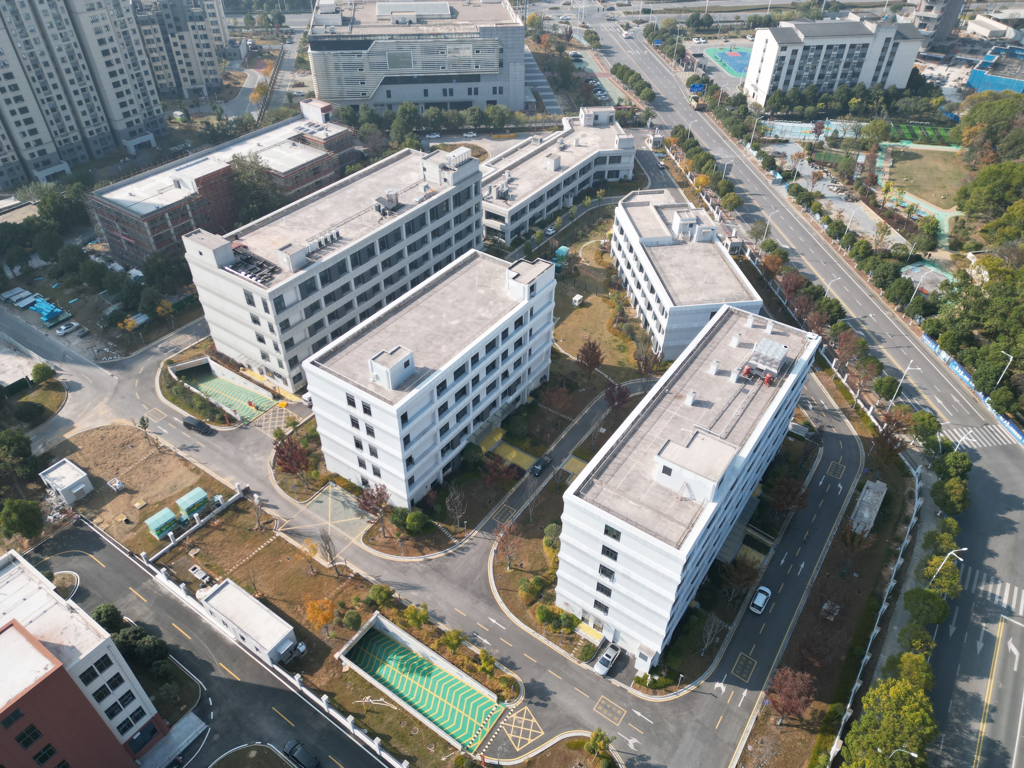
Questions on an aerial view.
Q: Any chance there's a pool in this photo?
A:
No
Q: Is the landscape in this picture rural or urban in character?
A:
urban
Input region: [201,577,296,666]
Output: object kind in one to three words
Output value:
building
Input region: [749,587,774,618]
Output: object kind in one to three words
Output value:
car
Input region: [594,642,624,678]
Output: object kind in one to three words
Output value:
car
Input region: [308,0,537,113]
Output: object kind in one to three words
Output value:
building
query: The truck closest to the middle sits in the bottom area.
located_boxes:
[530,451,556,477]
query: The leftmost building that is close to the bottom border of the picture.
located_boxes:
[0,532,216,768]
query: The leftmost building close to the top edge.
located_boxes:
[0,0,168,193]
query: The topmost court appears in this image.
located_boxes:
[705,47,755,77]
